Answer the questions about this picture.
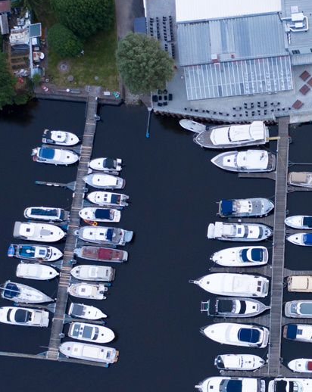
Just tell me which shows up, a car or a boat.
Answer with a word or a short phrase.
boat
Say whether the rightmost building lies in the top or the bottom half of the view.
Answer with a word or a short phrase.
top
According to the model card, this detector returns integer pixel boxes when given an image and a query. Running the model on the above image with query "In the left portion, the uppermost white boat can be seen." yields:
[39,130,83,149]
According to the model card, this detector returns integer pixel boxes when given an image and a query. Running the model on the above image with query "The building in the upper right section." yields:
[175,0,312,103]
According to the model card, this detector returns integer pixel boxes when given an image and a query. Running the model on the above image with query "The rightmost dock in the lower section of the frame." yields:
[209,123,312,381]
